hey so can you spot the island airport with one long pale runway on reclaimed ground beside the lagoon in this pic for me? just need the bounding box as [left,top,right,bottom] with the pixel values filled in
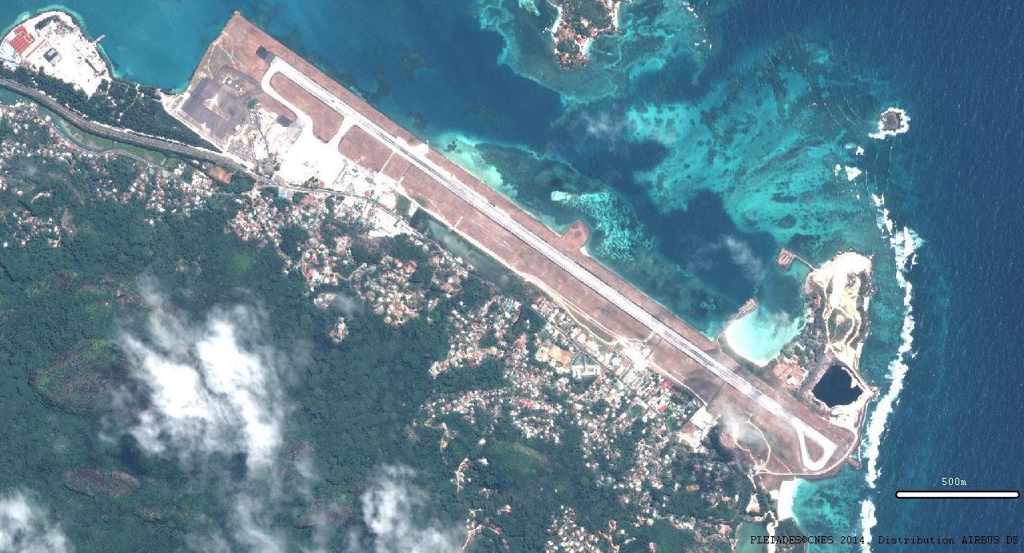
[181,17,857,477]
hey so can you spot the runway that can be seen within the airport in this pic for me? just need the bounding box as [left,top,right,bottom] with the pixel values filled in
[272,58,838,454]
